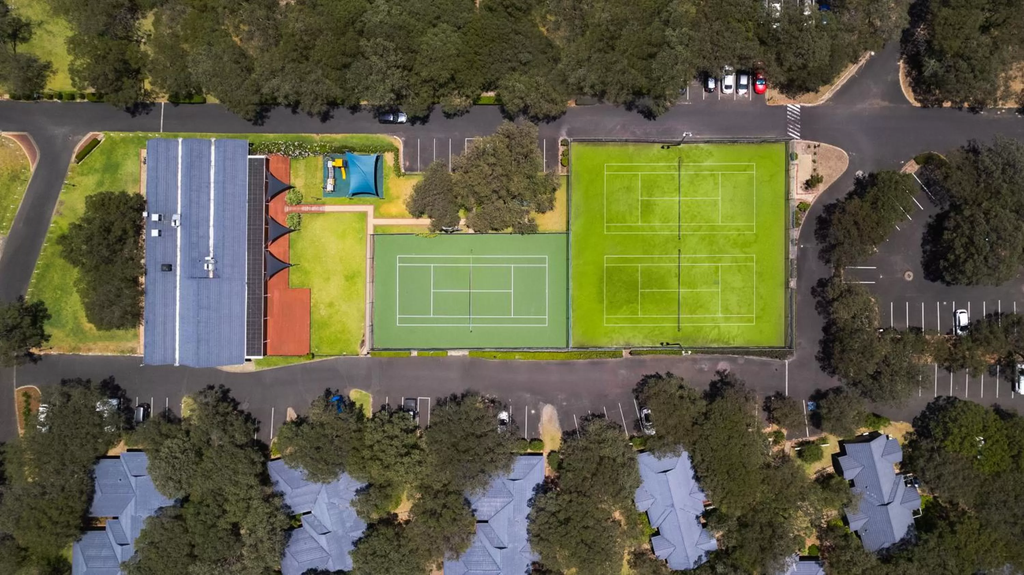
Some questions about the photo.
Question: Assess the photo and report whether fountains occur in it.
No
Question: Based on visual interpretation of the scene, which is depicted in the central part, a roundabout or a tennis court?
tennis court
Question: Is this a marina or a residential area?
residential area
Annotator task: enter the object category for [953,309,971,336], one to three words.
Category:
car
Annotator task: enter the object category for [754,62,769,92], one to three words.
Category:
car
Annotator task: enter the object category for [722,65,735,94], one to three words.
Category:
vehicle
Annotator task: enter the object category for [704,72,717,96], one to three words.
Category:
vehicle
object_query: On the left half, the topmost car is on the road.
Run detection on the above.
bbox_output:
[378,110,408,125]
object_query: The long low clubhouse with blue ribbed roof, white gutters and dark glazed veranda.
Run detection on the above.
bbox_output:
[143,138,274,366]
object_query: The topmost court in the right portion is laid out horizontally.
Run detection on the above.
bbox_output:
[571,143,785,244]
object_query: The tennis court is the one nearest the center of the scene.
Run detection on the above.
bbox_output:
[374,234,569,349]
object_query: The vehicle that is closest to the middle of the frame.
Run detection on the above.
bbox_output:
[496,411,510,437]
